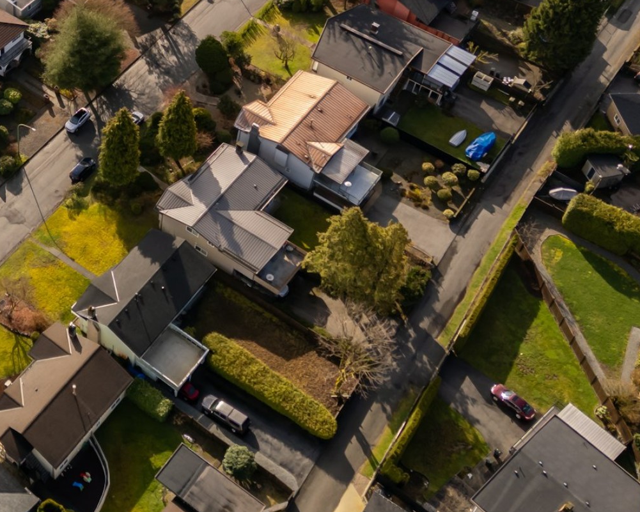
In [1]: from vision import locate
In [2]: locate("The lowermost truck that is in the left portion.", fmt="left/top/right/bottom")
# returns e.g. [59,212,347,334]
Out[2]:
[201,398,250,436]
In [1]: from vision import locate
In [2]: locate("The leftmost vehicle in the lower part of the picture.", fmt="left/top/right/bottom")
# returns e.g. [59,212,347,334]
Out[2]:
[164,378,205,403]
